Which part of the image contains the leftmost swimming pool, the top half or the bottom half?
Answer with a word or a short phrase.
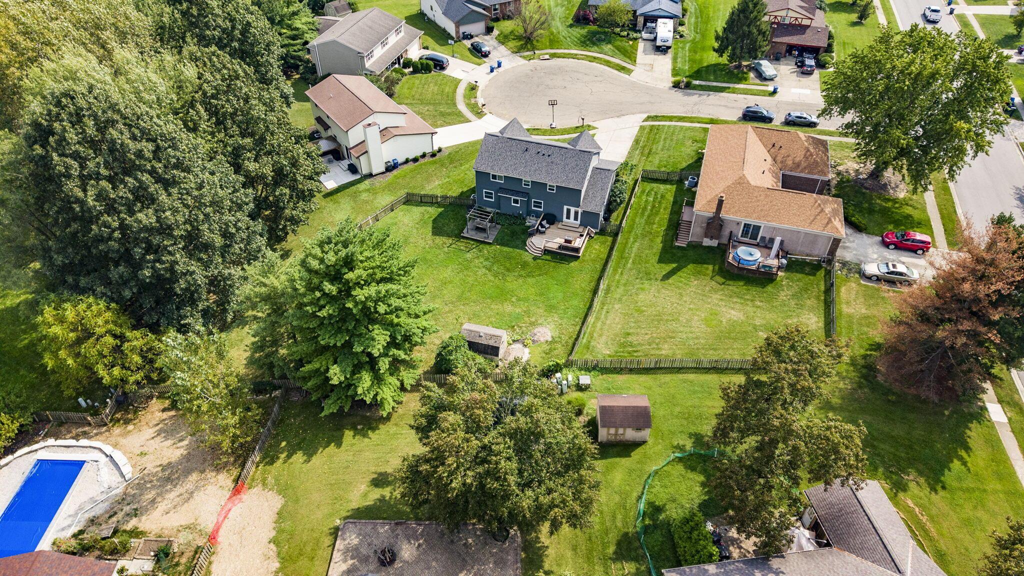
bottom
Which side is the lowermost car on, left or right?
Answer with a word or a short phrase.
right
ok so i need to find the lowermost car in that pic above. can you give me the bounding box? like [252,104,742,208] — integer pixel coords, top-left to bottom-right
[864,262,923,287]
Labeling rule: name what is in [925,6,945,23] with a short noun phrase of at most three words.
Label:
vehicle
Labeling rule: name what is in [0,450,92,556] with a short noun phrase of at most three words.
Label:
swimming pool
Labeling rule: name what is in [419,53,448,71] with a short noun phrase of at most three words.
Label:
car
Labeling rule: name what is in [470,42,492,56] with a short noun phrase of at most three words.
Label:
car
